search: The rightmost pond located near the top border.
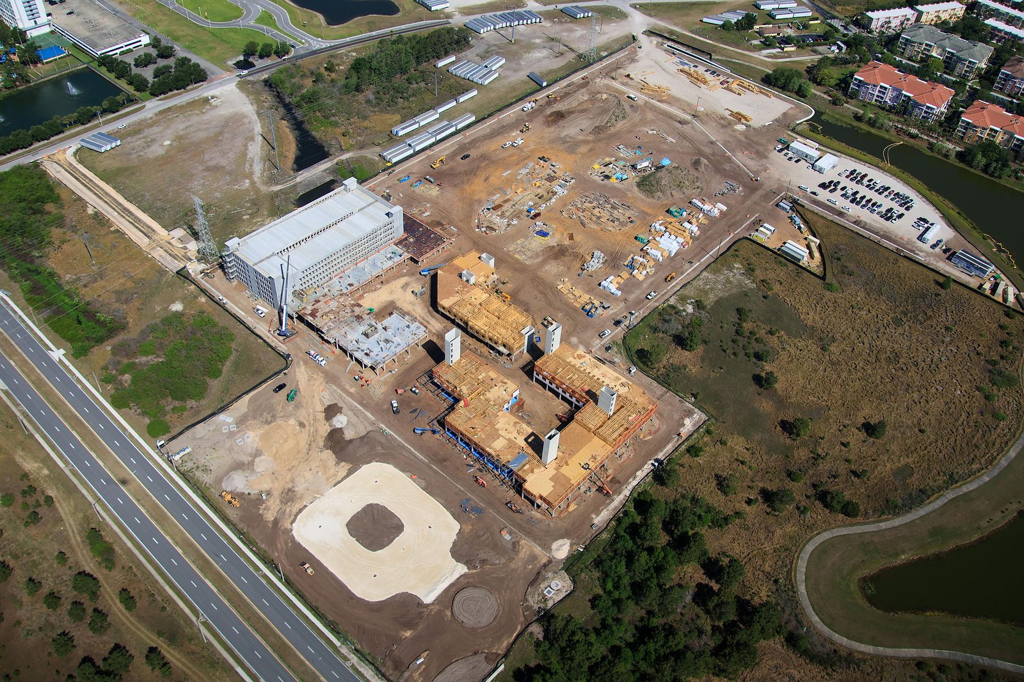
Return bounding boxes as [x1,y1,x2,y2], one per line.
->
[291,0,400,26]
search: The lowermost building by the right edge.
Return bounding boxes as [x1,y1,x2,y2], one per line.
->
[952,245,997,278]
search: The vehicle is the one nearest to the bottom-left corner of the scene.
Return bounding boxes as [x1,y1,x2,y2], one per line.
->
[218,488,239,505]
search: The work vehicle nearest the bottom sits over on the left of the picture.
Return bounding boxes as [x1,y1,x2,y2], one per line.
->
[295,558,314,574]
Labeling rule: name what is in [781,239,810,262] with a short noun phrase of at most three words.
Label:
building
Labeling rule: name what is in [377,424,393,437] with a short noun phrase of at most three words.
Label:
vehicle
